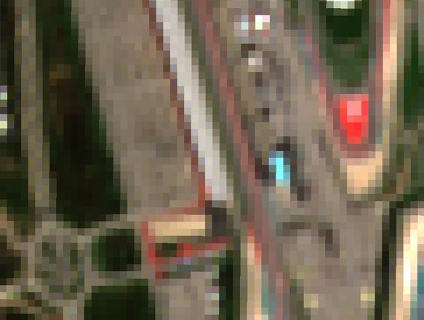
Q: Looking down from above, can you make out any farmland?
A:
Yes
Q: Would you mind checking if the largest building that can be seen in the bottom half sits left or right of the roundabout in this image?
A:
to the right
